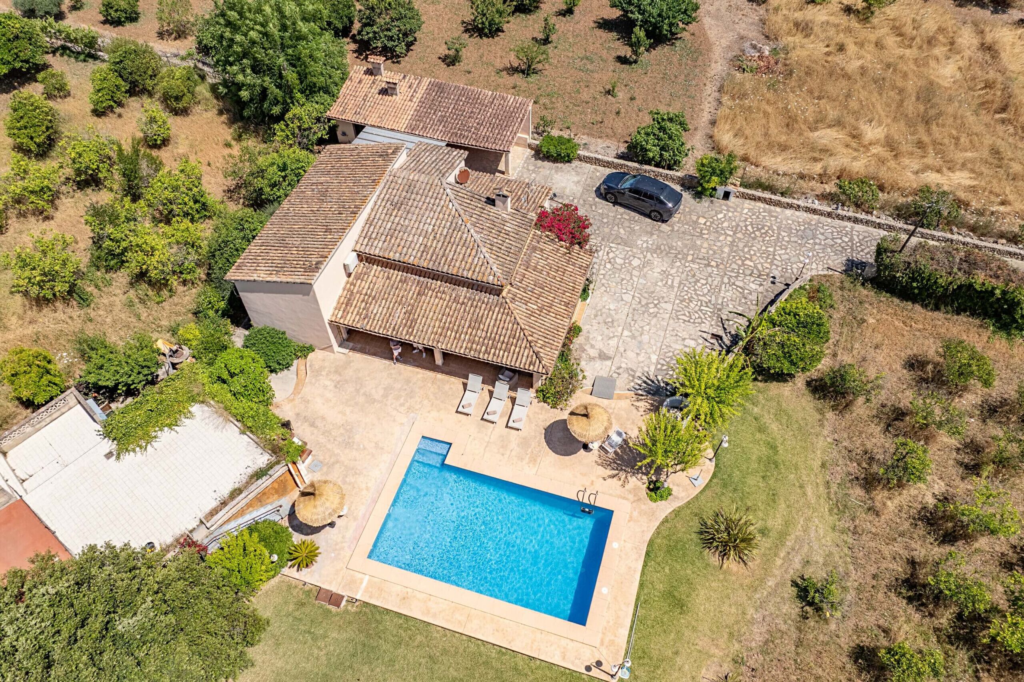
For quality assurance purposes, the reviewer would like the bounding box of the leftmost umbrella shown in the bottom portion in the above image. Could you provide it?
[294,482,347,532]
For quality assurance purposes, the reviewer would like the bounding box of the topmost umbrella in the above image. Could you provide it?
[567,407,612,455]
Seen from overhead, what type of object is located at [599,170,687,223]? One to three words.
car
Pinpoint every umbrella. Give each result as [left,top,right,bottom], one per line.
[294,482,347,532]
[567,407,612,455]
